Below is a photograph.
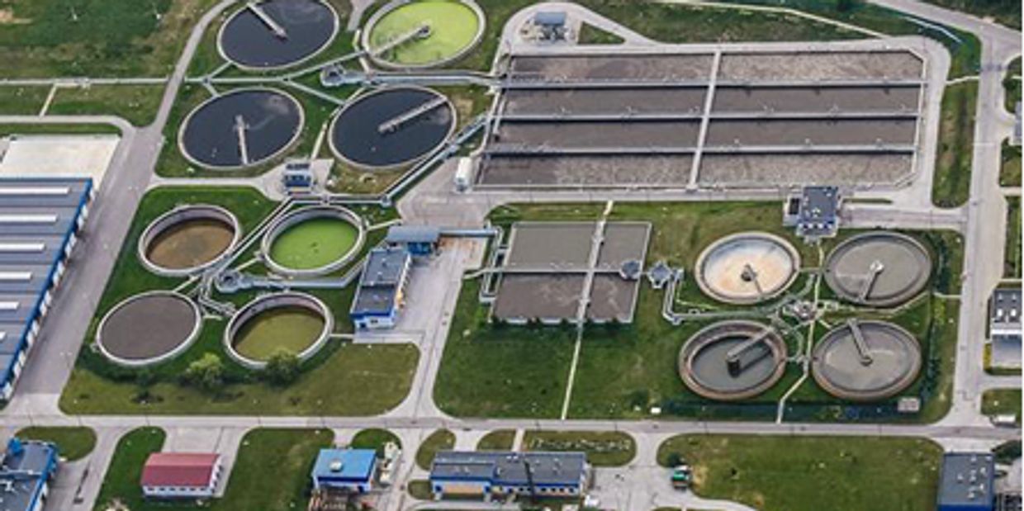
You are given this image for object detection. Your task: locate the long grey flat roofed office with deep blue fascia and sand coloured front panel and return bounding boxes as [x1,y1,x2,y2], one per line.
[429,449,588,502]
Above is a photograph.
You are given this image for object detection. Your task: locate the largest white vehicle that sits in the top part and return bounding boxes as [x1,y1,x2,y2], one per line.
[458,154,474,184]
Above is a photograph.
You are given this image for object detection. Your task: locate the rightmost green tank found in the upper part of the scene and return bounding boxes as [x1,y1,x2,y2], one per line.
[362,0,485,71]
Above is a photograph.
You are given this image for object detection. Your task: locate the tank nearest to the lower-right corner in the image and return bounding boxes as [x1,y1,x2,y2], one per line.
[811,319,922,402]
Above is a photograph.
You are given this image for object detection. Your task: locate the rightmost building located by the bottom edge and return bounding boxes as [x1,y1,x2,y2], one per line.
[938,452,995,511]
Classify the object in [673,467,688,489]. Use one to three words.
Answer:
vehicle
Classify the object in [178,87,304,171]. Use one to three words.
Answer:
storage tank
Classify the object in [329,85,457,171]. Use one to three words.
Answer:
storage tank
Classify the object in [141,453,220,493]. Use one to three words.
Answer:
building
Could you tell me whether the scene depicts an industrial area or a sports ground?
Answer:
industrial area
